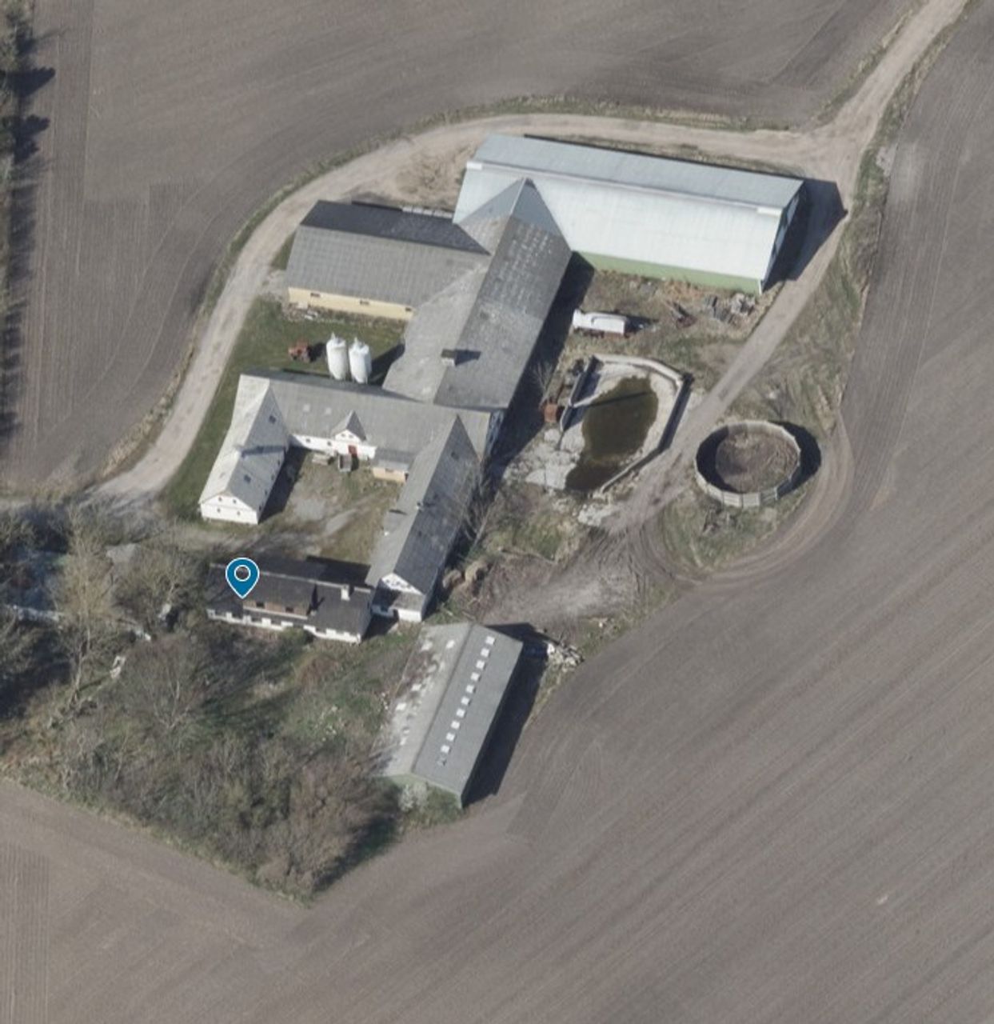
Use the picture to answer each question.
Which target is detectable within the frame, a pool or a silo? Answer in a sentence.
This aerial view contains a silo.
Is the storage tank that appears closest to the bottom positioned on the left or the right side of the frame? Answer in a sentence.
The storage tank that appears closest to the bottom sits on the right side.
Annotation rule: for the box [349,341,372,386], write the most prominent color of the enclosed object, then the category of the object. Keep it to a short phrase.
white silo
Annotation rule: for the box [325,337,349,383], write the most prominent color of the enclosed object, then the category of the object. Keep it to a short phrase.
white silo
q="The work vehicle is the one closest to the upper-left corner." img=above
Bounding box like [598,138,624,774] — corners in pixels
[286,343,311,362]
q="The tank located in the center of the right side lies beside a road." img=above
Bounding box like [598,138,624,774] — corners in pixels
[696,420,801,506]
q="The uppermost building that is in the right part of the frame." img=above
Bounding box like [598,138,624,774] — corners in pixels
[455,136,801,293]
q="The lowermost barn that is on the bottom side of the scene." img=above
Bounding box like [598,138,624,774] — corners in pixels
[364,624,525,806]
